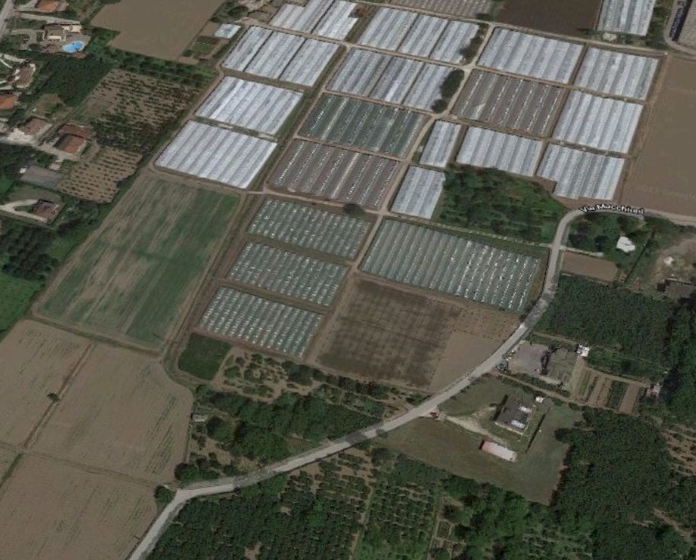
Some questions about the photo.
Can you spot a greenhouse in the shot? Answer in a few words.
Yes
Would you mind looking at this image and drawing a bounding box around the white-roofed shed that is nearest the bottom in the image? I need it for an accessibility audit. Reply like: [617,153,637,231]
[481,442,516,462]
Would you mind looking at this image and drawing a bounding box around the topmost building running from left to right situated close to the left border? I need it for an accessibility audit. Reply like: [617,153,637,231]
[34,0,65,14]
